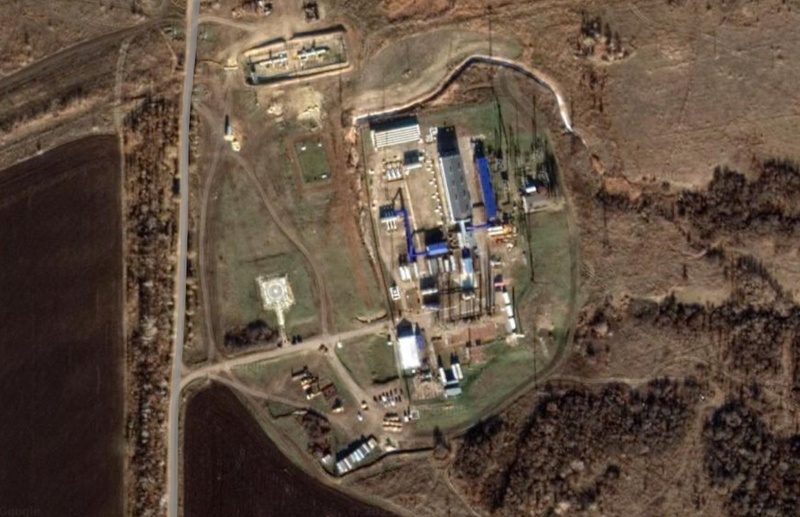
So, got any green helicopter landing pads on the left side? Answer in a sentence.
No, there is no green helicopter landing pad on the left side.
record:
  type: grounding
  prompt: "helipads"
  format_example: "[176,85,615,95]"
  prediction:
[262,278,293,326]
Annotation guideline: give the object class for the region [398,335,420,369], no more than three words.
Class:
building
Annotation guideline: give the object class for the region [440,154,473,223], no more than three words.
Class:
building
